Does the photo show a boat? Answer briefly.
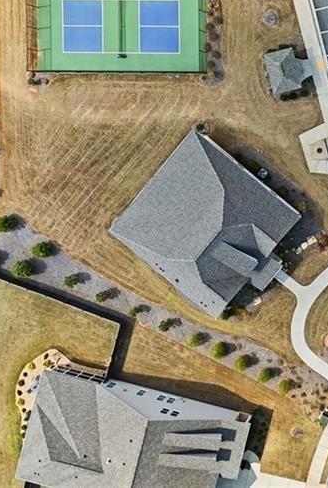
No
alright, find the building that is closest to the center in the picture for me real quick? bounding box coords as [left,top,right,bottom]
[110,129,301,318]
